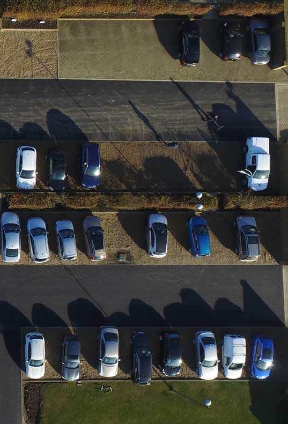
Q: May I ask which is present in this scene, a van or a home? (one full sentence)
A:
There is a van in the scene.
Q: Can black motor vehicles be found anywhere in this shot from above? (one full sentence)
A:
Yes, looking at the shot, I can spot a black motor vehicle.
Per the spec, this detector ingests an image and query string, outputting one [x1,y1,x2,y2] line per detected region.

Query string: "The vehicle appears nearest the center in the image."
[142,214,169,259]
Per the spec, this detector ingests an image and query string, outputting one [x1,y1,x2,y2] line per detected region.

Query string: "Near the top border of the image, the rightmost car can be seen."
[244,21,271,65]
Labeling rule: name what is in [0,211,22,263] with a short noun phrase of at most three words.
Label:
car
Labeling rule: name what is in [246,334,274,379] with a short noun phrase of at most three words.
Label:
car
